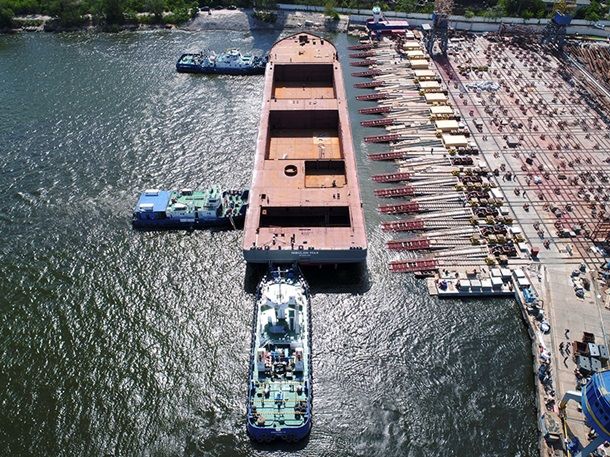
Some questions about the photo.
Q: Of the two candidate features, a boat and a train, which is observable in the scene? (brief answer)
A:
boat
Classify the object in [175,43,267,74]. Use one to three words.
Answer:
boat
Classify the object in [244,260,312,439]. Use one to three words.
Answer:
boat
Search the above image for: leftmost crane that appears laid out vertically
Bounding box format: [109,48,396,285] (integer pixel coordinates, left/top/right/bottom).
[426,0,458,58]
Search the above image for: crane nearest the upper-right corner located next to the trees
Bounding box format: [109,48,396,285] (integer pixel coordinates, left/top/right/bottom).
[529,0,571,57]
